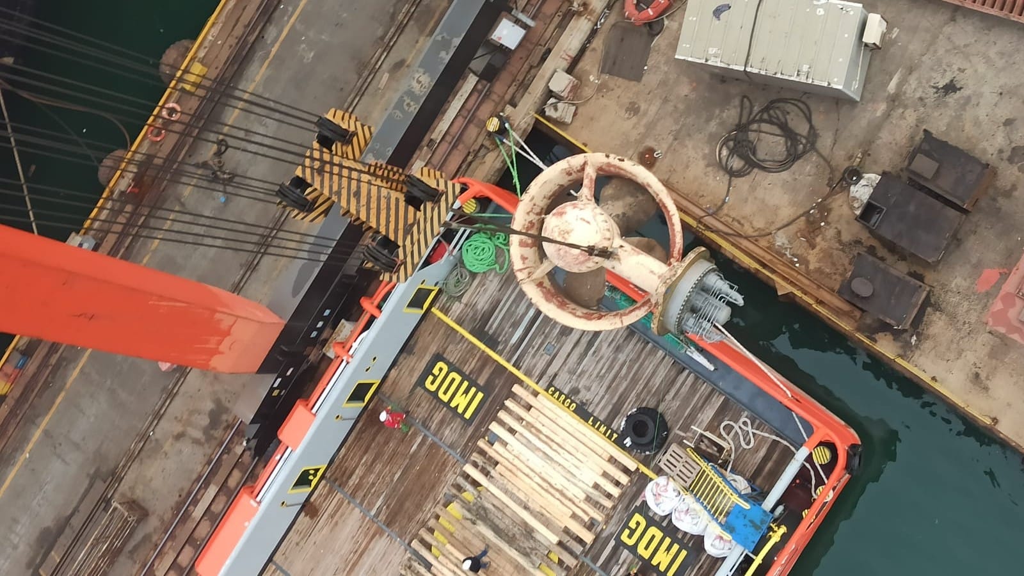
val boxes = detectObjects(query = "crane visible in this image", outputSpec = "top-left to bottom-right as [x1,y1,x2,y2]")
[0,0,515,458]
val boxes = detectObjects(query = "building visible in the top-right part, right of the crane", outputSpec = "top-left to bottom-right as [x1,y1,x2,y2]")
[674,0,884,102]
